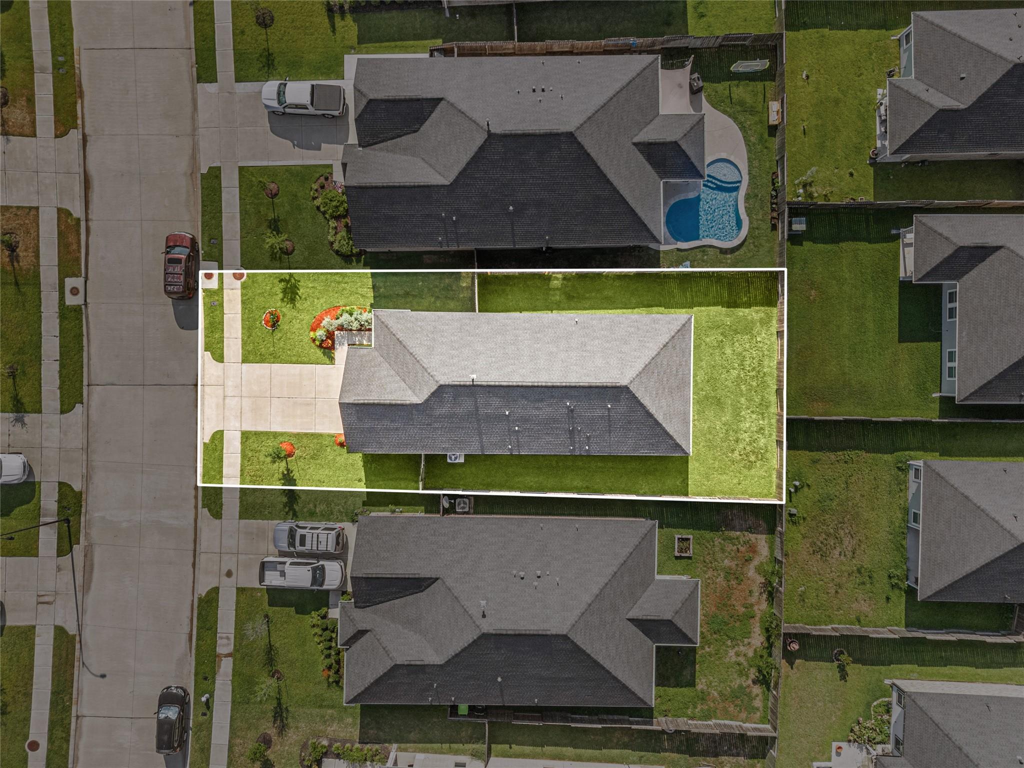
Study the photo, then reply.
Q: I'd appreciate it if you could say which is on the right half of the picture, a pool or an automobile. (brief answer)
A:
pool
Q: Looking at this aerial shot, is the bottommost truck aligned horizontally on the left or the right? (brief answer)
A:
left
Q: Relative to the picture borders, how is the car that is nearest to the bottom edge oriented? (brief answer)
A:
vertically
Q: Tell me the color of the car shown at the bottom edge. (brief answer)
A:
black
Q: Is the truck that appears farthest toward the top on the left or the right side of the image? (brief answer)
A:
left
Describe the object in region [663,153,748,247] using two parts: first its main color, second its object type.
blue swimming pool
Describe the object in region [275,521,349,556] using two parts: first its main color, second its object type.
gray car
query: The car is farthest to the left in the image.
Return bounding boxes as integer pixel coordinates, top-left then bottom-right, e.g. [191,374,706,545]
[0,453,32,487]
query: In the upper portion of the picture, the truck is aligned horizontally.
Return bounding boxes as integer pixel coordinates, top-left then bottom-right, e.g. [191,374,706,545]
[263,78,348,117]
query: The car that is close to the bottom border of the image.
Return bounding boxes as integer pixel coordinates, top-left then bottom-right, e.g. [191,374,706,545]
[155,684,190,753]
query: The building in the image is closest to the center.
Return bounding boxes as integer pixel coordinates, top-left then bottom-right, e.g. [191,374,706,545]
[339,310,694,456]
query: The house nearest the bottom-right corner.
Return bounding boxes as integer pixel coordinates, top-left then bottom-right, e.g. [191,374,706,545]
[874,679,1024,768]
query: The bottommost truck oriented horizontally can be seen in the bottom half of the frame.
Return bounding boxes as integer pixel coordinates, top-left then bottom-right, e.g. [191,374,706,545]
[258,555,347,592]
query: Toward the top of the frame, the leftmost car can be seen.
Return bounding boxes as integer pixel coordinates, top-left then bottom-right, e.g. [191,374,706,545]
[161,233,198,301]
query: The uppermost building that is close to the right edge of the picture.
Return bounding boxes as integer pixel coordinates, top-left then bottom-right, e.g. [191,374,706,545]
[883,9,1024,160]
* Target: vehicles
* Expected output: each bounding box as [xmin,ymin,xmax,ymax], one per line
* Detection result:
[0,453,32,487]
[258,555,347,592]
[155,684,190,753]
[263,78,348,117]
[275,521,349,556]
[161,233,198,301]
